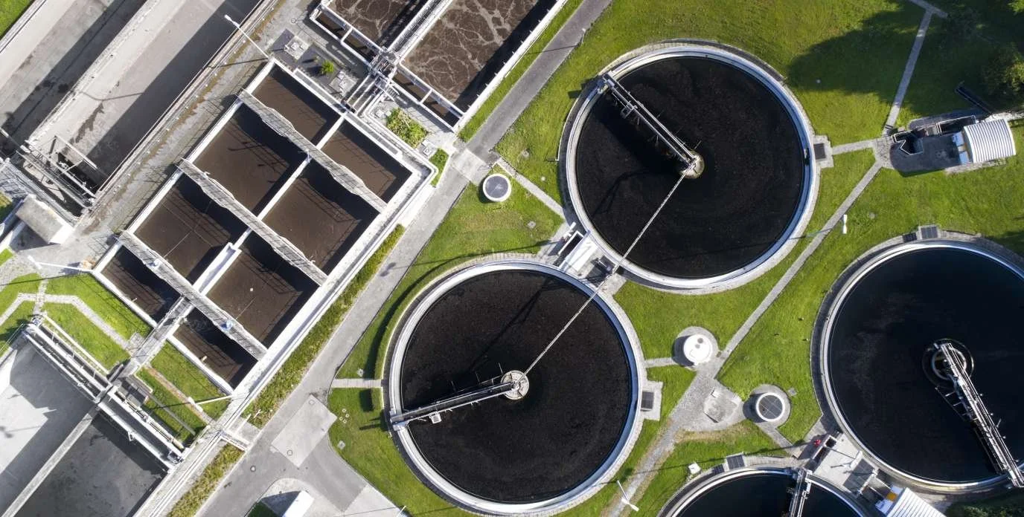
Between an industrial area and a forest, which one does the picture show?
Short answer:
industrial area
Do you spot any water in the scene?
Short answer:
Yes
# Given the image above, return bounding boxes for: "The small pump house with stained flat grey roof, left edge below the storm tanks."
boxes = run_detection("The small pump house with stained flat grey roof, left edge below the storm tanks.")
[17,193,74,244]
